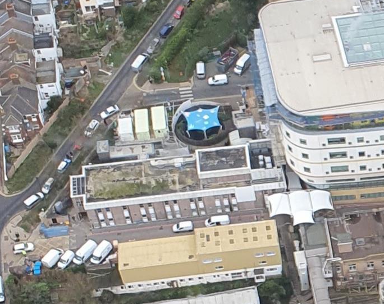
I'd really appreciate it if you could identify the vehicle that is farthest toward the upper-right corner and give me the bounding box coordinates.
[235,52,250,72]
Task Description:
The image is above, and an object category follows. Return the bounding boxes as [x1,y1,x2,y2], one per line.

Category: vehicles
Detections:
[159,24,174,37]
[196,64,205,77]
[101,105,120,117]
[235,52,250,72]
[83,121,99,136]
[131,54,149,70]
[91,238,112,262]
[74,238,95,262]
[14,244,33,254]
[57,158,74,172]
[172,7,184,19]
[210,74,227,86]
[41,178,55,193]
[208,214,227,226]
[41,246,65,268]
[147,41,160,52]
[173,219,193,232]
[21,191,46,209]
[57,249,76,268]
